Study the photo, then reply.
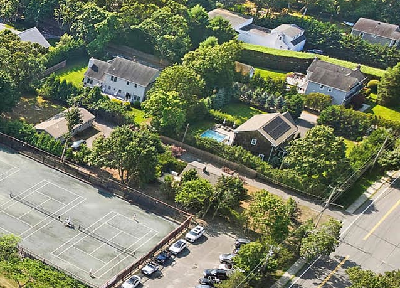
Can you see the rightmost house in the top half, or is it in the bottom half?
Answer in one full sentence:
The rightmost house sits in the top half of the picture.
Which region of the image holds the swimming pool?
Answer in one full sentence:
You can find the swimming pool in the center area of the picture.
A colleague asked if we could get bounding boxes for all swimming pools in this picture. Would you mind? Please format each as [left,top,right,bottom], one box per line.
[188,129,232,152]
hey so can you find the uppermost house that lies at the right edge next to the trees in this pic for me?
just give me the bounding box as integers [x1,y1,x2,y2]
[344,14,400,53]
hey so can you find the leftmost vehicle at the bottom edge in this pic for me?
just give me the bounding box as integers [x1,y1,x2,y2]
[120,275,142,288]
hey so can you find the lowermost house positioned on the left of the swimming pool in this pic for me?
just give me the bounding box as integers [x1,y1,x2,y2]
[27,107,102,141]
